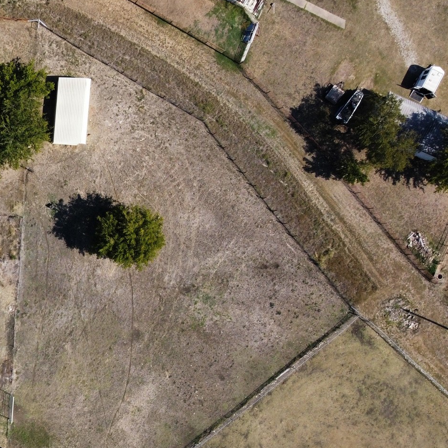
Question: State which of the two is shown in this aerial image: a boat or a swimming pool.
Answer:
boat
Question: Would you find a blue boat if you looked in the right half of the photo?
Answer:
No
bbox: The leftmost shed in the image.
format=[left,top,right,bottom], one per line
[51,77,91,148]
